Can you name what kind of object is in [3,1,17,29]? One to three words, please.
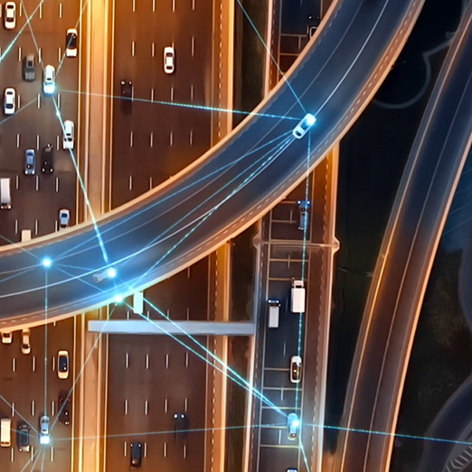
vehicle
